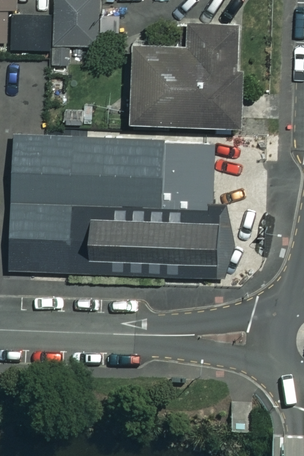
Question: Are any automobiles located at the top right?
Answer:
Yes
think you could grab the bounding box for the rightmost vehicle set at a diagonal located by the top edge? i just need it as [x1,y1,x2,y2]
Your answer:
[220,0,244,24]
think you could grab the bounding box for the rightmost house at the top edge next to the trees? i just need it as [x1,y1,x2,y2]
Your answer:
[129,22,244,129]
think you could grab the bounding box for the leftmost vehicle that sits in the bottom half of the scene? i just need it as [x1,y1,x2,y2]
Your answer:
[0,348,24,362]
